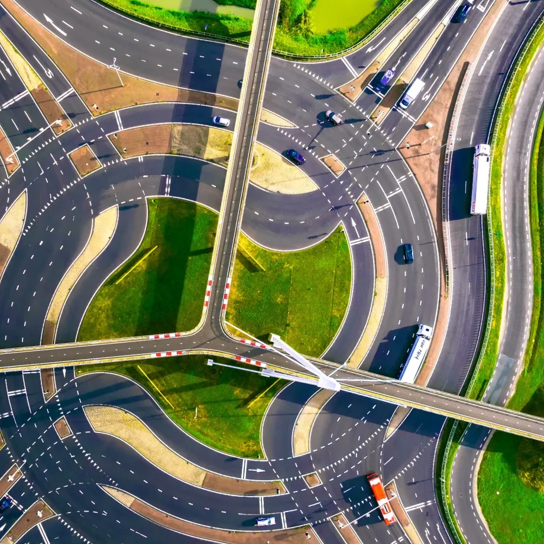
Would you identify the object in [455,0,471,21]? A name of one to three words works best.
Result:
car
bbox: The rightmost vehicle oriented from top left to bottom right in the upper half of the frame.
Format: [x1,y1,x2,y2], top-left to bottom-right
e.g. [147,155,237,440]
[323,109,343,127]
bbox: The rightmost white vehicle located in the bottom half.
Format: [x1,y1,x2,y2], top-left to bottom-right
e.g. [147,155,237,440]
[395,328,430,383]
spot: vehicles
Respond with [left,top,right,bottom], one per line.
[255,516,275,526]
[323,109,343,127]
[286,149,305,164]
[455,0,471,21]
[367,471,396,526]
[233,79,244,88]
[470,146,489,216]
[400,79,423,107]
[377,66,395,90]
[211,115,230,126]
[403,244,412,263]
[395,328,430,383]
[0,494,12,512]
